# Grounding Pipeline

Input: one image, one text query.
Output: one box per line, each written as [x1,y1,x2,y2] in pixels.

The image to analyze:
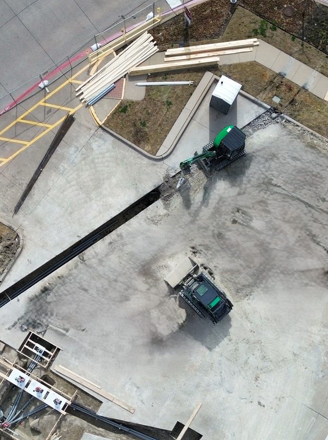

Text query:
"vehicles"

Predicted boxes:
[180,129,250,178]
[163,256,235,323]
